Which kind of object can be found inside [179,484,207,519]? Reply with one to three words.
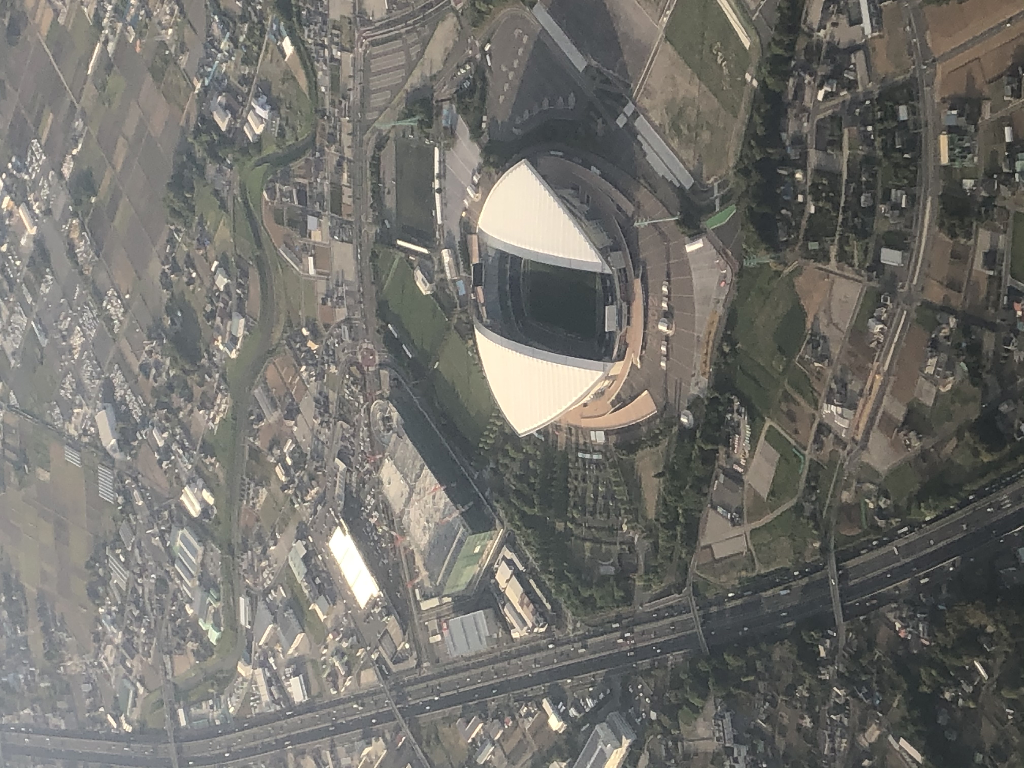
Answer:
building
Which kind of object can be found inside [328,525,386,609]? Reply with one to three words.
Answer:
building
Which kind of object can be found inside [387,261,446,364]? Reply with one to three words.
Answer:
sports field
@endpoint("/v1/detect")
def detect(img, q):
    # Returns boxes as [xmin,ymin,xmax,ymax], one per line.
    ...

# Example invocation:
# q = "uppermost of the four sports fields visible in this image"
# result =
[395,139,437,231]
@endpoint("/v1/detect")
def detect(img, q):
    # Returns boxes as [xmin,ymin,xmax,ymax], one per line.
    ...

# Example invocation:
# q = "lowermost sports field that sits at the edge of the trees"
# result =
[433,329,498,445]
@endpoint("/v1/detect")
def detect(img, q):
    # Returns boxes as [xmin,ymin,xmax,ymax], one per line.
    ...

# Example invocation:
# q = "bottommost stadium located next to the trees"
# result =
[470,155,661,442]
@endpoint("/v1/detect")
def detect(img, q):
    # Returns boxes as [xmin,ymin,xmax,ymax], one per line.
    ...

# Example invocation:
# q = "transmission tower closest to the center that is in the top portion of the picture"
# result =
[635,214,678,228]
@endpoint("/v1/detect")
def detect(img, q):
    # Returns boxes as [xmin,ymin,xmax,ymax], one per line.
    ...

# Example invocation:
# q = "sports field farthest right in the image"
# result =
[526,259,598,342]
